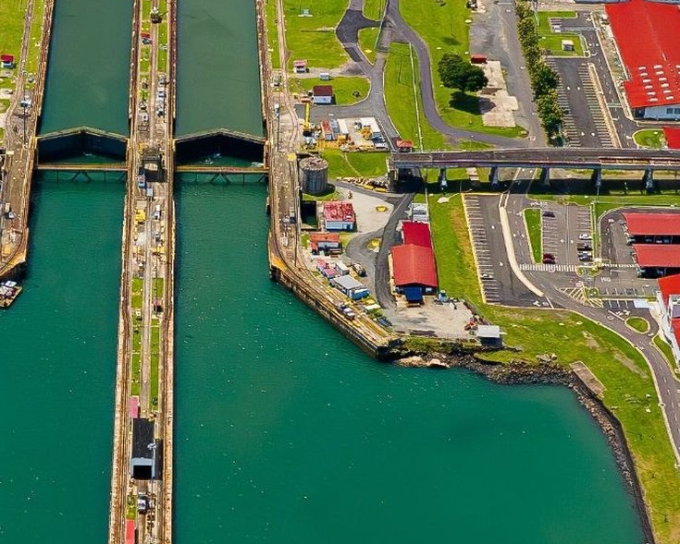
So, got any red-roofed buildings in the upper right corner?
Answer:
Yes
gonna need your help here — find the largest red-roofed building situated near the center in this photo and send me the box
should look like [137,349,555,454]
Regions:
[382,239,441,300]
